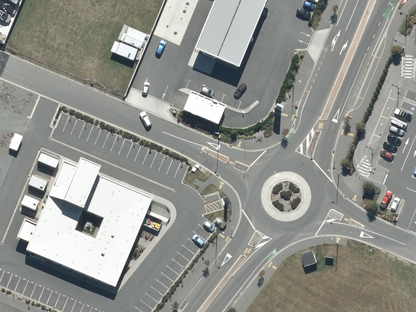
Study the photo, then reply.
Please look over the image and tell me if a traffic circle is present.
Yes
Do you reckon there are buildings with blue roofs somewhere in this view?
No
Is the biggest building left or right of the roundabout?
to the left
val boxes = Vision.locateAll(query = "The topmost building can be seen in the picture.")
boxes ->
[118,25,149,50]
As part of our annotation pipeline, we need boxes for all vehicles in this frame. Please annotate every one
[382,142,398,153]
[140,112,152,129]
[380,191,392,209]
[202,222,216,234]
[198,86,216,99]
[390,118,408,130]
[156,40,165,56]
[296,10,312,20]
[391,198,400,212]
[143,82,150,96]
[192,236,205,248]
[389,126,406,137]
[386,135,402,146]
[381,151,395,160]
[260,4,270,20]
[302,2,316,11]
[234,84,246,98]
[394,110,412,121]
